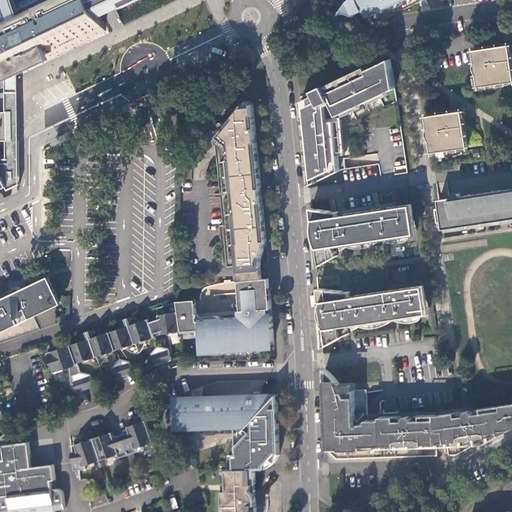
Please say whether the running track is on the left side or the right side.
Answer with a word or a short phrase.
right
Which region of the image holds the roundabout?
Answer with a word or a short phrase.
top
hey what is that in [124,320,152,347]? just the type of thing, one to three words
house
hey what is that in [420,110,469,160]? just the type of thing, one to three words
building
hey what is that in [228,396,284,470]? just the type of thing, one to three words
building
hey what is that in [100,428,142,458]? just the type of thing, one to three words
house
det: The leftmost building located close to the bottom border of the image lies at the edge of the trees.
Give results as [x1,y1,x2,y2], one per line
[0,444,68,512]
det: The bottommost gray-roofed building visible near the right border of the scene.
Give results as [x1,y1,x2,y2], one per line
[321,370,512,460]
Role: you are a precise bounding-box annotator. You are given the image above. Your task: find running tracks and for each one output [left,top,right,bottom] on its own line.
[464,249,512,392]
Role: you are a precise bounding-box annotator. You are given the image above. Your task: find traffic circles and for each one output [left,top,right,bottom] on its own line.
[222,0,280,60]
